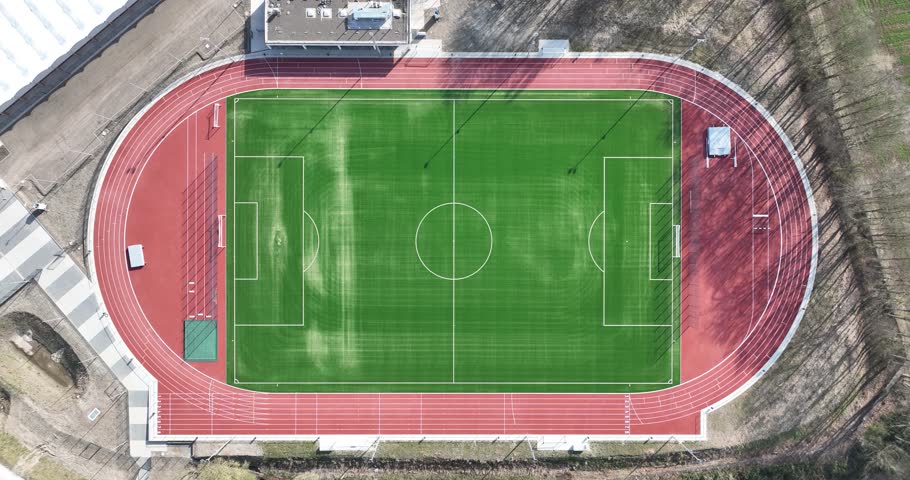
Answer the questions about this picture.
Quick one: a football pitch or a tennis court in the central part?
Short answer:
football pitch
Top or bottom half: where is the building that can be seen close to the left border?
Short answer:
top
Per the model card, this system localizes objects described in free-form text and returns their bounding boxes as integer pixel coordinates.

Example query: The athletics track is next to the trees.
[95,58,813,435]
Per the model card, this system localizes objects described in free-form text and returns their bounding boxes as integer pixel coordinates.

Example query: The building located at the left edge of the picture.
[0,0,159,135]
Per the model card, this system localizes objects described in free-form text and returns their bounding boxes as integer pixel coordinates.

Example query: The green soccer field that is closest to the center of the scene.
[227,89,681,393]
